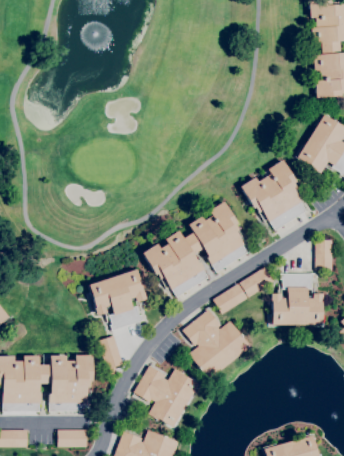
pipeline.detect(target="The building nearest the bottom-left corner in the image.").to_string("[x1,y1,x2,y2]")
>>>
[0,429,28,448]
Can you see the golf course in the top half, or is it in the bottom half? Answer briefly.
top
